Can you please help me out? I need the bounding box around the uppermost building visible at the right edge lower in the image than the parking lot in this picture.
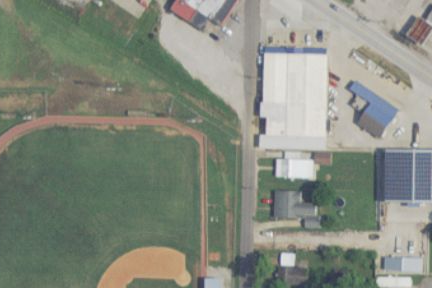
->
[384,257,422,271]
